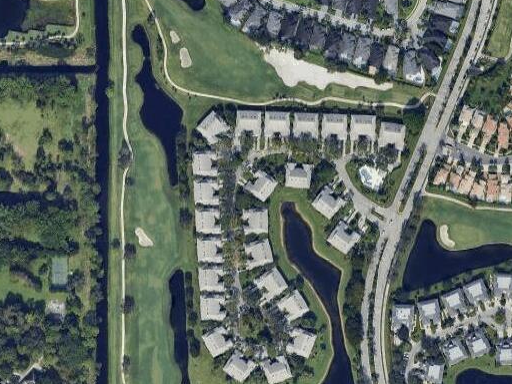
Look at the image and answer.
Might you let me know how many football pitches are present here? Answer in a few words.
none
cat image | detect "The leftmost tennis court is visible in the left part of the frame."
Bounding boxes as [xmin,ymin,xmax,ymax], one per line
[51,256,66,285]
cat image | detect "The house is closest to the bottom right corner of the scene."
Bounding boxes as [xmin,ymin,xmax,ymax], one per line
[496,340,512,365]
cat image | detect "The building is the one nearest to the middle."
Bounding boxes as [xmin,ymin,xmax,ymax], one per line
[244,169,277,203]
